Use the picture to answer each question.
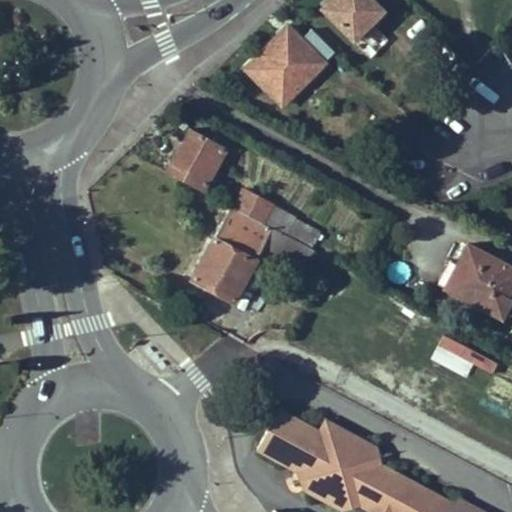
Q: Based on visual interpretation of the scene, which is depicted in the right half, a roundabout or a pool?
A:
pool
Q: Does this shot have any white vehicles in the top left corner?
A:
No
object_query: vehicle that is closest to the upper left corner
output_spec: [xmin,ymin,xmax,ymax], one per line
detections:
[210,4,233,19]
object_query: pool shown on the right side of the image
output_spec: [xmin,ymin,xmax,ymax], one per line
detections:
[386,260,414,284]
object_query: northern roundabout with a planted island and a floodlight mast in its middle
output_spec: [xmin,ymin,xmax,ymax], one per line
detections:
[0,0,130,186]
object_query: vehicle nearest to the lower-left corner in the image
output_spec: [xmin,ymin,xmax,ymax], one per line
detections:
[40,380,54,402]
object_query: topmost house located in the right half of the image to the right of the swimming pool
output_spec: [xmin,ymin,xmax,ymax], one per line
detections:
[437,242,512,324]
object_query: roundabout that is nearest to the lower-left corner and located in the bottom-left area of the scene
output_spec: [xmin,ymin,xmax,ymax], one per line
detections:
[0,356,209,512]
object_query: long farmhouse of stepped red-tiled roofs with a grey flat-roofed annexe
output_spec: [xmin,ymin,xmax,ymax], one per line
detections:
[184,186,320,304]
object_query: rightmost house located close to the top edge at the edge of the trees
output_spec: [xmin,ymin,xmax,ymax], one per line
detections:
[320,0,388,58]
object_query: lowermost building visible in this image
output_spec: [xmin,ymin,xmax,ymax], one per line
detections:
[256,411,476,512]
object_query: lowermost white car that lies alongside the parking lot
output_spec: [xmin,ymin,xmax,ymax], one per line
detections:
[446,180,468,199]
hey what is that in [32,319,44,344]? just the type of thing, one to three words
vehicle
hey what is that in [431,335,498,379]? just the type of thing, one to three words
shed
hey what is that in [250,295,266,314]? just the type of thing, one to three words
car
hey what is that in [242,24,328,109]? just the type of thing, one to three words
house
